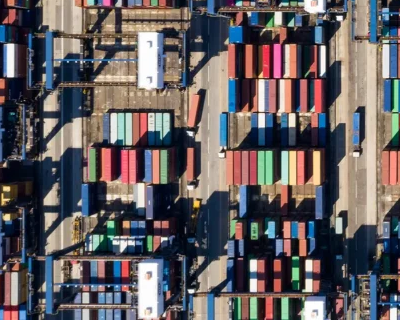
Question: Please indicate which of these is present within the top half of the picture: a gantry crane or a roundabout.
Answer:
gantry crane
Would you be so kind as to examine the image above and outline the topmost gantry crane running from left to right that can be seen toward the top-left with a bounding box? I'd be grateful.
[27,24,188,96]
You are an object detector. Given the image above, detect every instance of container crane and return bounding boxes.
[189,0,348,26]
[27,233,188,320]
[0,200,30,267]
[349,249,400,320]
[27,24,188,96]
[0,92,30,164]
[188,266,347,320]
[349,0,400,53]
